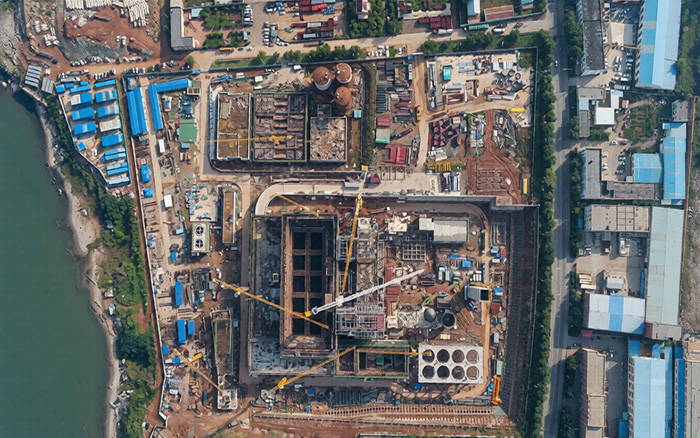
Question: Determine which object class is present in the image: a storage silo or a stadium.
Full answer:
Visible in the photo is a storage silo.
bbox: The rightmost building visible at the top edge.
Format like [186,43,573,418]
[630,0,678,92]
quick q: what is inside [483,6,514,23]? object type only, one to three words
shed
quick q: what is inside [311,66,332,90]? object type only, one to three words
silo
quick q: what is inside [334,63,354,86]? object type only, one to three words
silo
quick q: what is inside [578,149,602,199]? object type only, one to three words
building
